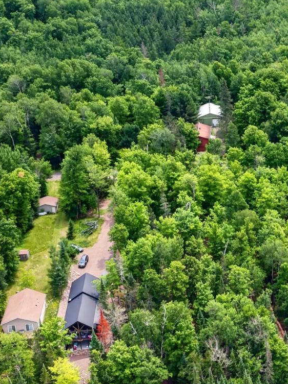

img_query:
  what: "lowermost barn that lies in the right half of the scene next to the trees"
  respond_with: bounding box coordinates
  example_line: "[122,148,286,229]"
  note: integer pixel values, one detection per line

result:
[193,124,215,153]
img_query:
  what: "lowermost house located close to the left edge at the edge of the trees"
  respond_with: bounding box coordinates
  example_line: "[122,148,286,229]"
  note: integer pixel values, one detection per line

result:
[2,289,48,335]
